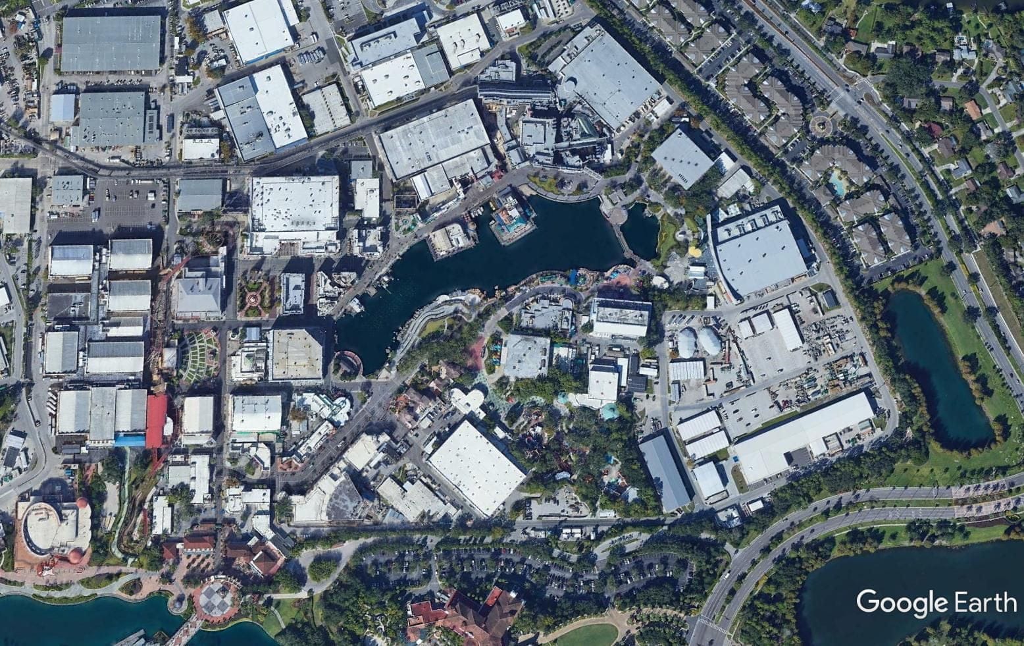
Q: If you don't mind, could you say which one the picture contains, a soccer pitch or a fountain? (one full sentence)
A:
This aerial view contains a fountain.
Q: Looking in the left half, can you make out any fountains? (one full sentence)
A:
Yes, you'll find a fountain in the left half.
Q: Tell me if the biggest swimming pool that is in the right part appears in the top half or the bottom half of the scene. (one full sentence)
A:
The biggest swimming pool that is in the right part sits in the top half of the picture.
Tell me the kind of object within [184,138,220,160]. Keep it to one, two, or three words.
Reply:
shed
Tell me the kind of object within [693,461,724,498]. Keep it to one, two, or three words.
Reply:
building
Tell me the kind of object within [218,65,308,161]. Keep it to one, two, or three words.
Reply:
building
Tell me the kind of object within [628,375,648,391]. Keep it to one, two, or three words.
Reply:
shed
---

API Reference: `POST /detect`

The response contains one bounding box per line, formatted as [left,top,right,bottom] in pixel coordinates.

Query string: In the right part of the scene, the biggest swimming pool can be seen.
[829,170,858,198]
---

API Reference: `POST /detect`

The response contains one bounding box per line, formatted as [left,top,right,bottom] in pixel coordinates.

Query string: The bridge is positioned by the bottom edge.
[159,611,210,646]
